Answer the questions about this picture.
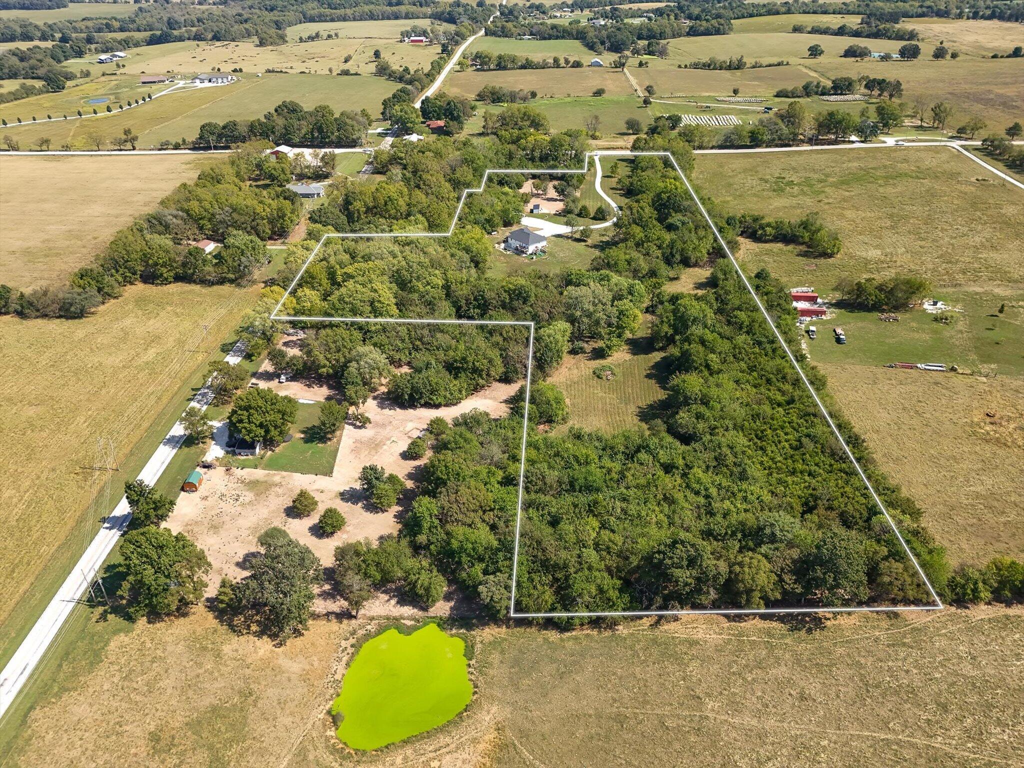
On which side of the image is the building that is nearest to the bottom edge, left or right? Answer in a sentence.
The building that is nearest to the bottom edge is on the left side of the image.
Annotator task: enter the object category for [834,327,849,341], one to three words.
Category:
vehicle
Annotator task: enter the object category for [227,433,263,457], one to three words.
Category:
house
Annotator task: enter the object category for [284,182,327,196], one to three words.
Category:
house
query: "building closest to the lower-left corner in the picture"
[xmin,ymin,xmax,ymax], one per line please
[180,467,204,493]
